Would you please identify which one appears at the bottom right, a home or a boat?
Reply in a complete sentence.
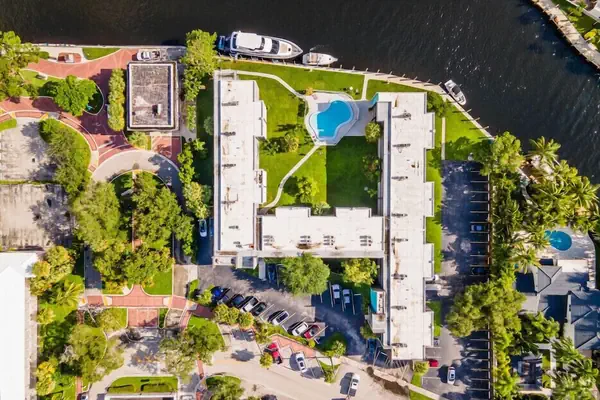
The feature located at the bottom right is a home.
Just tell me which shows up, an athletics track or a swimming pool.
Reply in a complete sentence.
The one in the frame is a swimming pool.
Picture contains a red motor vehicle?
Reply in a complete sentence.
Yes, a red motor vehicle is visible in the scene.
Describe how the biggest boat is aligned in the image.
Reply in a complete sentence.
In this picture, the biggest boat lies from left to right.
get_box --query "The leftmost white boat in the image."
[227,32,304,60]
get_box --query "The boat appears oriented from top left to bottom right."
[442,79,462,104]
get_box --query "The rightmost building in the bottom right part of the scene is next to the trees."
[531,265,600,343]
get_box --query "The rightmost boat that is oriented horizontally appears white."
[301,54,337,66]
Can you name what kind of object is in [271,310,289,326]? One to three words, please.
car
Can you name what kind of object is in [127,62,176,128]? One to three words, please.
house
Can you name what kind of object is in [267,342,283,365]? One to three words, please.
vehicle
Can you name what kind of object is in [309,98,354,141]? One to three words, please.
swimming pool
